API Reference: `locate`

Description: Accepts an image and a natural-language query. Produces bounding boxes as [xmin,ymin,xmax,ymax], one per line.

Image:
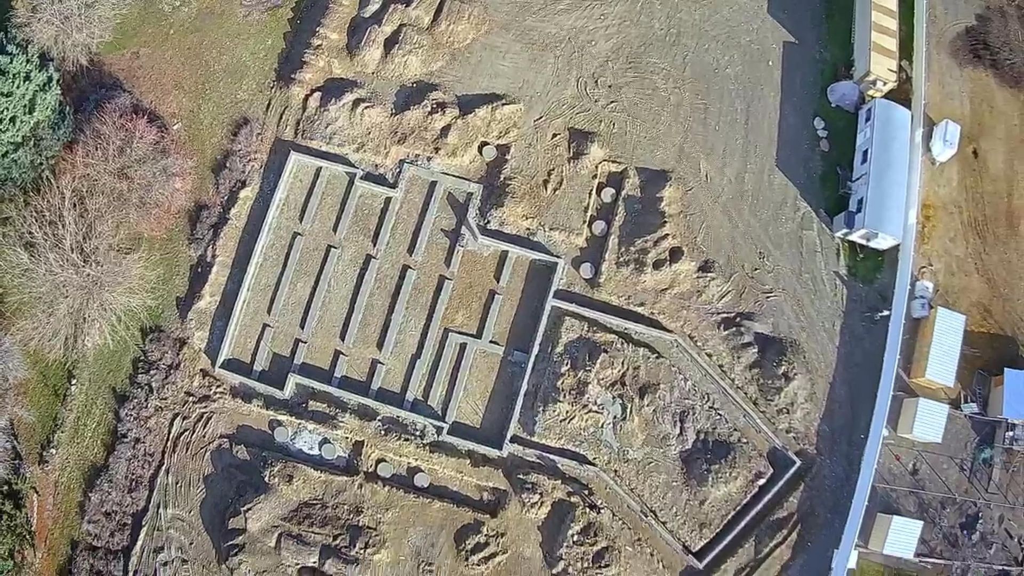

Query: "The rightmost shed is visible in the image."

[982,368,1024,421]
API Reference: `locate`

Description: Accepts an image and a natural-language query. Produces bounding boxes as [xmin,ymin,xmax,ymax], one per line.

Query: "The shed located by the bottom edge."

[870,511,921,558]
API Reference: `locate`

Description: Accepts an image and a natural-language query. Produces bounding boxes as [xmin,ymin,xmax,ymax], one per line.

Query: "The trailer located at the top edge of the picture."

[854,0,899,104]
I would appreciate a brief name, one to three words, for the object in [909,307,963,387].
shed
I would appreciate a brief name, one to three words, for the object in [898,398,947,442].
shed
